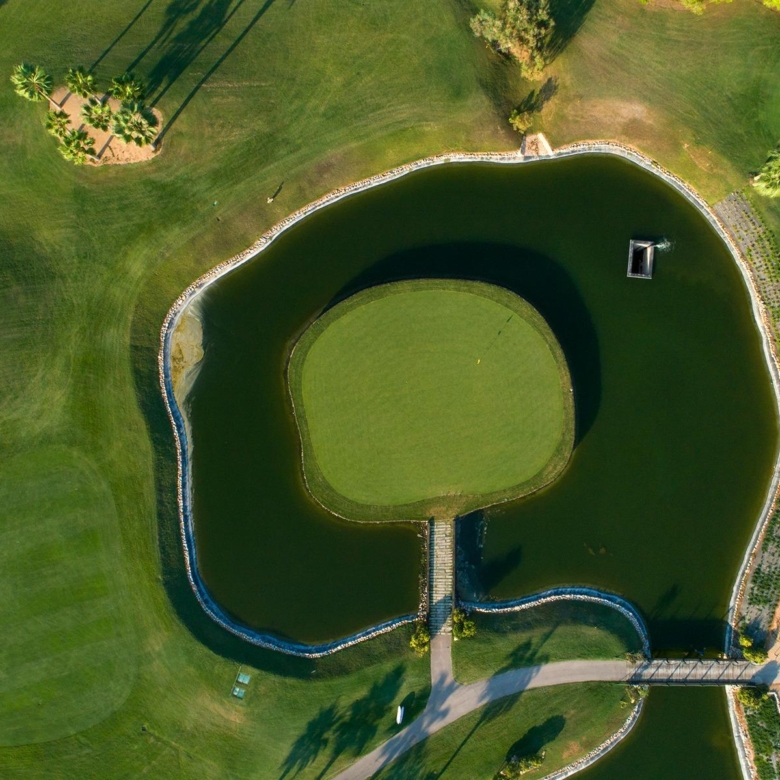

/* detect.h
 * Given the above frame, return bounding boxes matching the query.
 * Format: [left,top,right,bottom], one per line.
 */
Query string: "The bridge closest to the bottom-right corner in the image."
[630,657,761,687]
